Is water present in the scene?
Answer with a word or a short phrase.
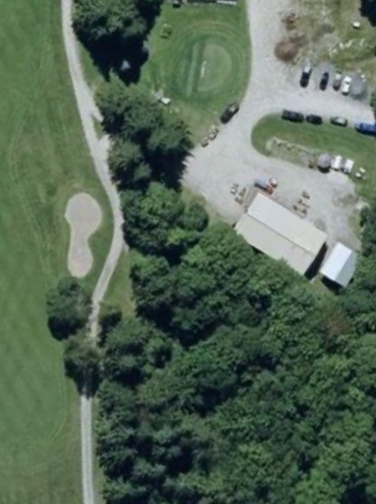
No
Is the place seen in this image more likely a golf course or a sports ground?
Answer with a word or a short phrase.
golf course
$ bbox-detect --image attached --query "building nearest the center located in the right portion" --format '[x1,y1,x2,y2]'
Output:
[233,184,326,276]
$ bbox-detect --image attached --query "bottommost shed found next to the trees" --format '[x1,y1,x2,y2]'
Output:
[322,243,360,285]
